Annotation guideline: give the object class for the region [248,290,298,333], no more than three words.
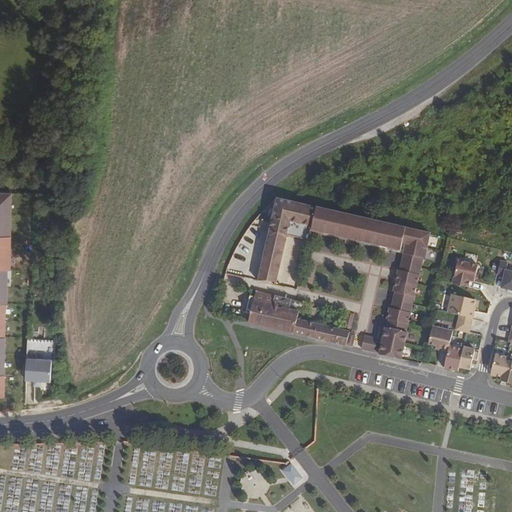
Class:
house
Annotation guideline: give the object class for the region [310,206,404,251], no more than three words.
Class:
building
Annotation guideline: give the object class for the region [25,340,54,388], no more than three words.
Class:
house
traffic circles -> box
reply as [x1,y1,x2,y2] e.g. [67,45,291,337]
[135,328,221,409]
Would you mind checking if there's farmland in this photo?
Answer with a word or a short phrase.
Yes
